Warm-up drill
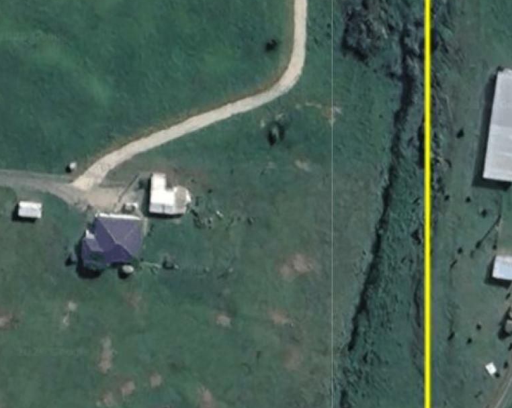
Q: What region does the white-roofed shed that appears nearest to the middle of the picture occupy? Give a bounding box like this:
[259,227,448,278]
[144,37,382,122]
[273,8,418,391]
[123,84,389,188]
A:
[149,173,186,213]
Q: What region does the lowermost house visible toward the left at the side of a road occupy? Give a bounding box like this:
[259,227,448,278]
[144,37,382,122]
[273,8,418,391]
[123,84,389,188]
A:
[82,213,141,263]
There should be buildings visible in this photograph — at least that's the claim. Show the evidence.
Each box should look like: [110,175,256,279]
[82,213,141,263]
[17,201,41,218]
[483,71,512,181]
[149,173,186,213]
[492,256,512,280]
